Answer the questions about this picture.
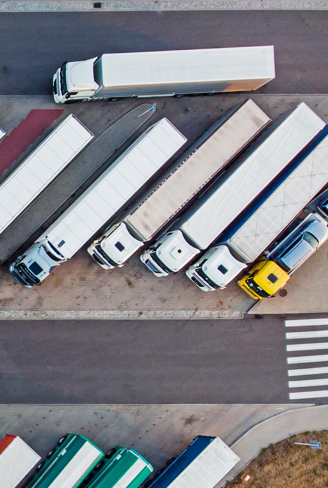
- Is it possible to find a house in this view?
No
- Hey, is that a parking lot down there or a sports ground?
parking lot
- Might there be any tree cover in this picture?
No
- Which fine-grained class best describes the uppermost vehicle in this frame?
truck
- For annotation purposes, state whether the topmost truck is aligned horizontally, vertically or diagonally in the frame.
horizontally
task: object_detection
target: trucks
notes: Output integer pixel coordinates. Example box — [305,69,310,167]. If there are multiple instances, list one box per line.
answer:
[239,188,328,299]
[140,102,326,276]
[51,47,275,101]
[0,114,93,233]
[0,433,41,488]
[84,448,151,488]
[86,98,271,269]
[11,119,187,287]
[142,434,239,488]
[184,126,328,290]
[28,433,104,488]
